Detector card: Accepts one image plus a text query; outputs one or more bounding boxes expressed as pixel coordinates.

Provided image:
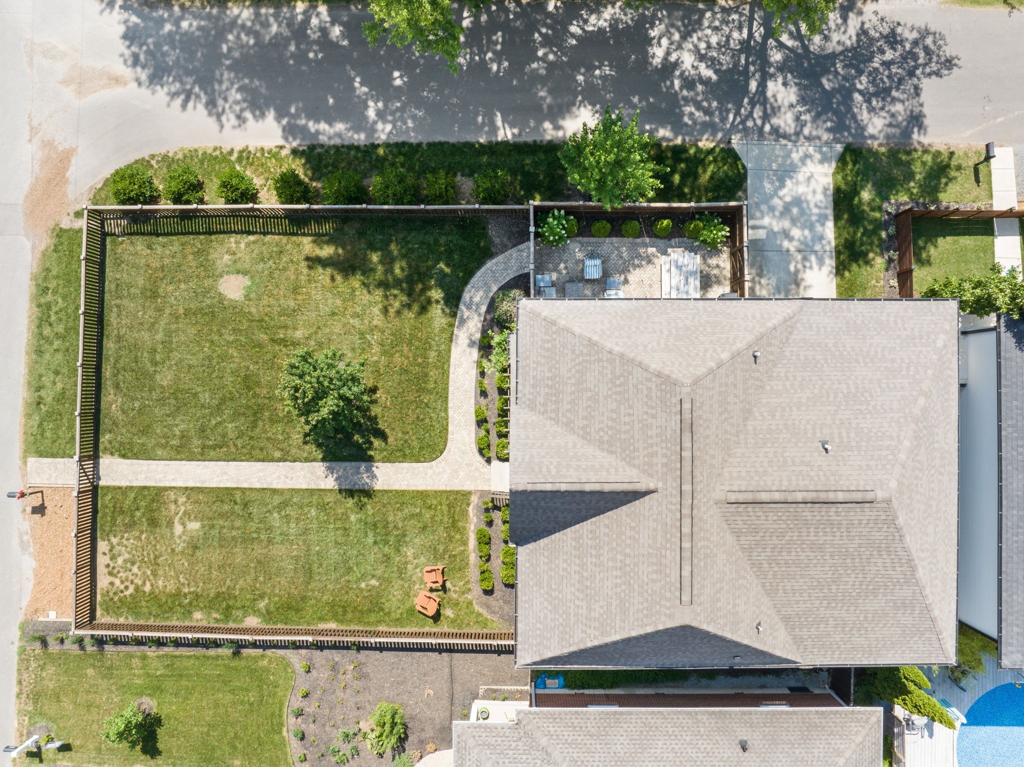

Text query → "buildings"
[451,680,884,767]
[507,297,962,670]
